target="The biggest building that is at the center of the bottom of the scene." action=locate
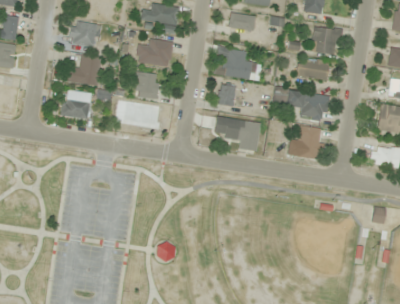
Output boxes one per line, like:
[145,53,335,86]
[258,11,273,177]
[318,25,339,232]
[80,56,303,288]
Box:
[154,240,176,263]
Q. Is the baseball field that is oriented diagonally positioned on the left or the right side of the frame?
right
